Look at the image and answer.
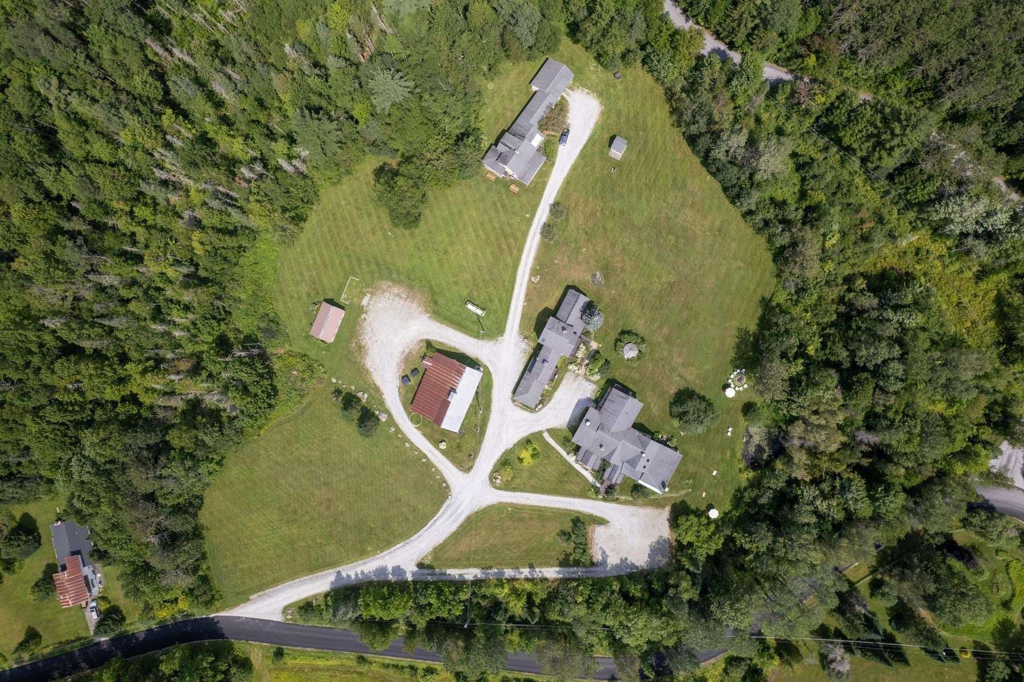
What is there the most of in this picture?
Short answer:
trees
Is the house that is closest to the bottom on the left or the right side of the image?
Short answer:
left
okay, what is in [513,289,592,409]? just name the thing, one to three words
house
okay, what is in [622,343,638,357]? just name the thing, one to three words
gazebo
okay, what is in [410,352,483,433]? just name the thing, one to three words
barn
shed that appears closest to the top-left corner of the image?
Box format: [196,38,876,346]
[310,302,346,343]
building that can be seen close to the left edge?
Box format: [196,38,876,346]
[51,516,104,608]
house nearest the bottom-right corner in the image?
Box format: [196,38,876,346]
[571,384,683,496]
